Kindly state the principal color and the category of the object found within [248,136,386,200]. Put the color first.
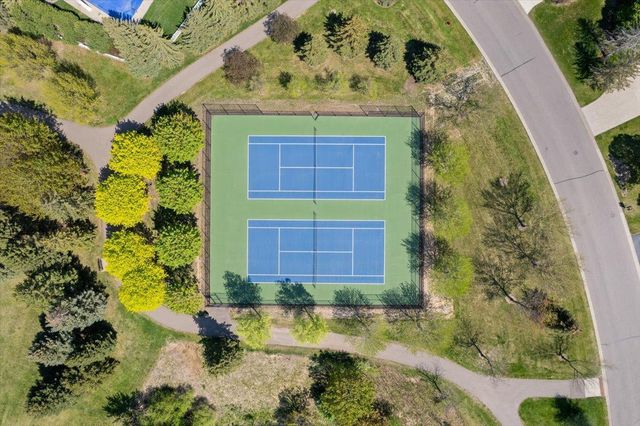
blue tennis court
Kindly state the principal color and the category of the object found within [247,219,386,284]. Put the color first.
blue tennis court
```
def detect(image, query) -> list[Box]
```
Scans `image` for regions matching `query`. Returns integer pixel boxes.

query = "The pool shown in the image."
[64,0,152,25]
